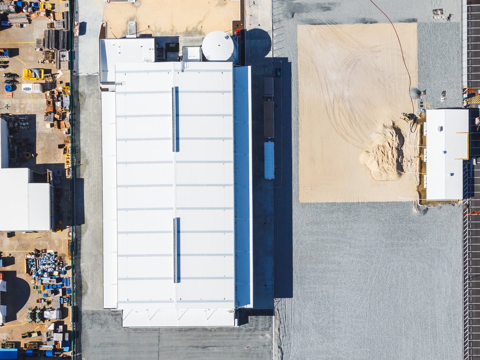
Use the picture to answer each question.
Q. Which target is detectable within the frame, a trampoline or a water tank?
water tank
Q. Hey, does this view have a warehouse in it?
Yes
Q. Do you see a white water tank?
Yes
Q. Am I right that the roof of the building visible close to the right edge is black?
No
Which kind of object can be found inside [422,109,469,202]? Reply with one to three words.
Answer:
building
